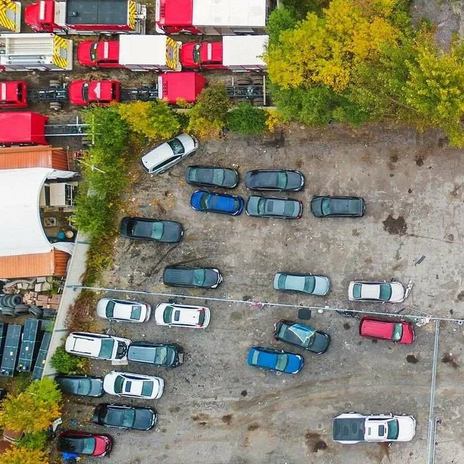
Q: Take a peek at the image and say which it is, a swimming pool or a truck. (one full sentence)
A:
Of the two, only a truck appears.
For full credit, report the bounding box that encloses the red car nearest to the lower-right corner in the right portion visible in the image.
[358,316,417,346]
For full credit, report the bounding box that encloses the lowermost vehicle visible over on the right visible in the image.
[329,413,416,444]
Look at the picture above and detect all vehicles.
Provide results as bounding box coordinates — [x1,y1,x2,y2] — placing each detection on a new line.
[185,164,240,189]
[358,316,417,346]
[118,216,185,245]
[136,133,200,176]
[92,404,159,432]
[25,0,152,39]
[245,345,306,377]
[347,279,406,305]
[160,262,224,291]
[244,165,305,193]
[189,188,246,217]
[0,114,104,149]
[154,301,213,328]
[124,341,187,368]
[79,35,186,75]
[54,432,115,458]
[51,375,104,399]
[182,35,277,78]
[273,270,331,297]
[60,332,130,368]
[310,191,366,219]
[158,0,277,40]
[103,372,166,399]
[245,191,304,221]
[96,297,153,323]
[329,413,416,444]
[0,34,76,75]
[271,318,334,355]
[70,76,159,109]
[0,81,68,116]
